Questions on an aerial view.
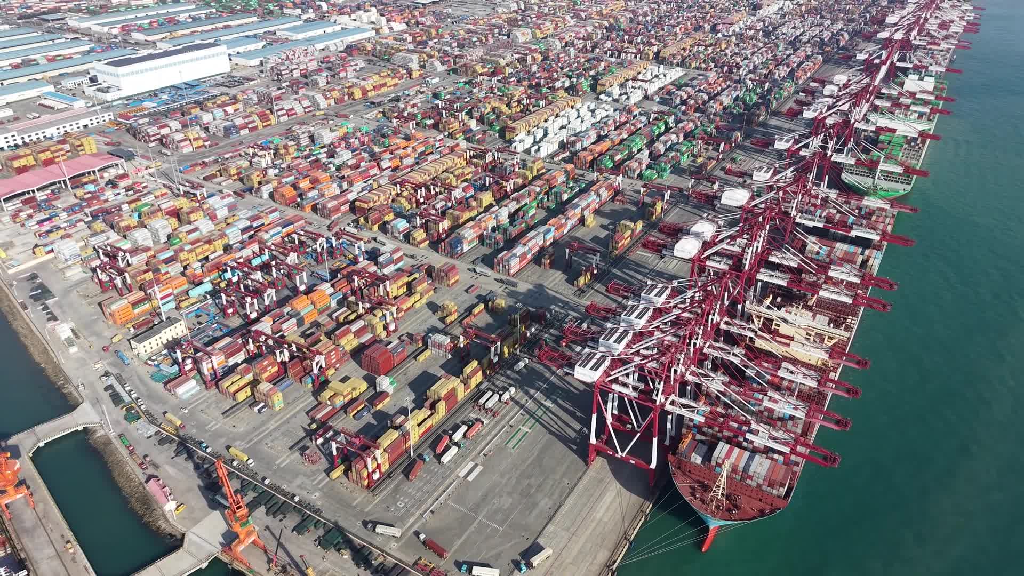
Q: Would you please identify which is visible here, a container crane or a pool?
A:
container crane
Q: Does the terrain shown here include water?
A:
Yes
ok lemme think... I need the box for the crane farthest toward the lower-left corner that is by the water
[0,443,33,525]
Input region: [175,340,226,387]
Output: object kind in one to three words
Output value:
crane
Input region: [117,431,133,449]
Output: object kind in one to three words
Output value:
vehicle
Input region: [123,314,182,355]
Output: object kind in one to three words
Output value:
building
